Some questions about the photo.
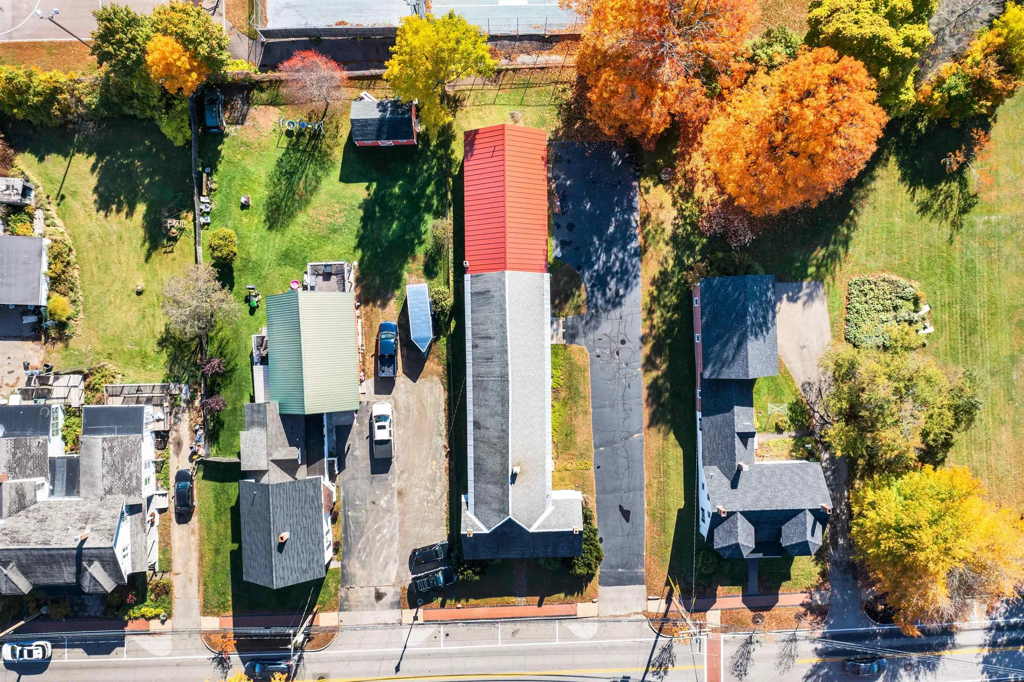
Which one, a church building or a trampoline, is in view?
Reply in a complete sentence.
Visible in the photo is a church building.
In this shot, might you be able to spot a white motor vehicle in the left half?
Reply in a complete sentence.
Yes, a white motor vehicle can be seen in the left half.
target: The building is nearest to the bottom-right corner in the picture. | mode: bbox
[695,274,837,559]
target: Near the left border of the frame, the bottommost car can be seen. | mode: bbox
[2,638,54,664]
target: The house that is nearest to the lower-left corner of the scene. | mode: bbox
[0,403,176,595]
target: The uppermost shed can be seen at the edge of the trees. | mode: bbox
[350,100,416,147]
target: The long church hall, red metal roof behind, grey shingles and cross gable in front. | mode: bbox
[461,123,584,559]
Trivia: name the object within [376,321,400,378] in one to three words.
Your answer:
truck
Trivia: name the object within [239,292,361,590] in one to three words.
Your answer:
building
